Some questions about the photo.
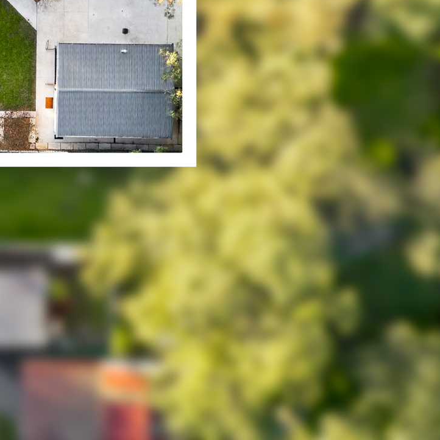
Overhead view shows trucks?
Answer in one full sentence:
No, the photo shows no truck.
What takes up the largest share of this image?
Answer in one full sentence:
The bulk of the photo consists of trees.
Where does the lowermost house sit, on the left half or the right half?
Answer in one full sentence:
The lowermost house sits on the left side.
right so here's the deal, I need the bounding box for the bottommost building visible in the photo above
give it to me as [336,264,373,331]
[21,357,158,440]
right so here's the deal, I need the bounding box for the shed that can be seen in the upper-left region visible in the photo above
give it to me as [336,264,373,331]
[43,40,176,138]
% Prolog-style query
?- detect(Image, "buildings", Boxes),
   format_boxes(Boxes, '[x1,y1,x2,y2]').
[43,40,176,138]
[0,265,48,347]
[21,357,158,440]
